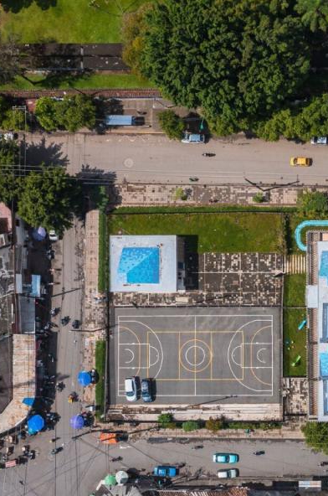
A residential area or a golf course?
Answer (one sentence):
This looks like a residential area.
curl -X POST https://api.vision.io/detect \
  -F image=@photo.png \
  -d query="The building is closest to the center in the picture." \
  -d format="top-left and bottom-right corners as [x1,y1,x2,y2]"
[109,235,184,292]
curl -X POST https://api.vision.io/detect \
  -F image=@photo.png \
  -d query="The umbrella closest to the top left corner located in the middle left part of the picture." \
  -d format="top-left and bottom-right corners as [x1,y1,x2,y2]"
[31,227,47,241]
